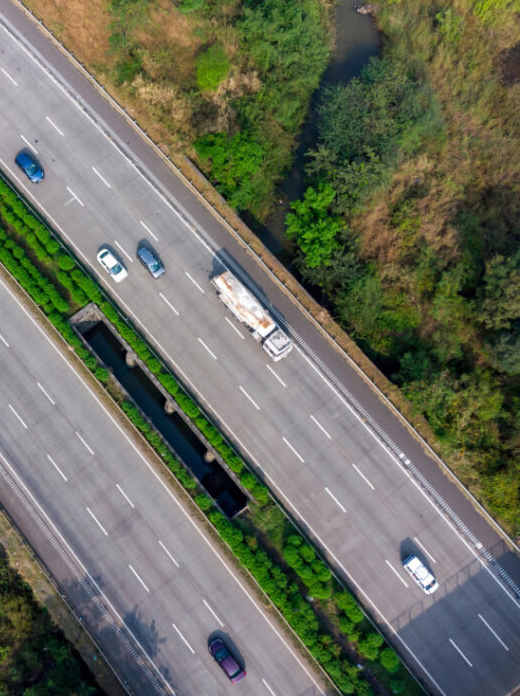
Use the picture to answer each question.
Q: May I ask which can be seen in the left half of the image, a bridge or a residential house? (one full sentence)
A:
It is a bridge that can be seen in the left half of the image.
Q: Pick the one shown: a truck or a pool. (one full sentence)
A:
This aerial view contains a truck.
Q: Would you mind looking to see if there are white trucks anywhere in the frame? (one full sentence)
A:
Yes, a white truck appears in the view.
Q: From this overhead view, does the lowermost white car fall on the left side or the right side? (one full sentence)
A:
You can find the lowermost white car on the right side of the picture.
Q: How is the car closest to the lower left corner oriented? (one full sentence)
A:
In this picture, the car closest to the lower left corner lies on a diagonal.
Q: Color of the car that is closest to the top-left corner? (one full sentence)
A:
The car that is closest to the top-left corner looks blue in the image.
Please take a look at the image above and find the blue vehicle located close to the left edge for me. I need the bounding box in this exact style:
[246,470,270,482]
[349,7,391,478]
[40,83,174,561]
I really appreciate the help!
[12,151,45,185]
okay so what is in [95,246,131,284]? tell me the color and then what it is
white car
